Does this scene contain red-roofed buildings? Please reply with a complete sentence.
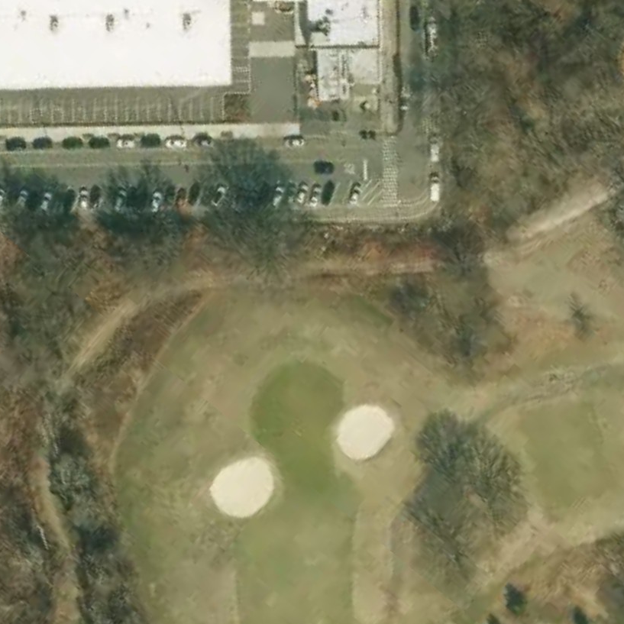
No, there appears to be no red-roofed building in this shot.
